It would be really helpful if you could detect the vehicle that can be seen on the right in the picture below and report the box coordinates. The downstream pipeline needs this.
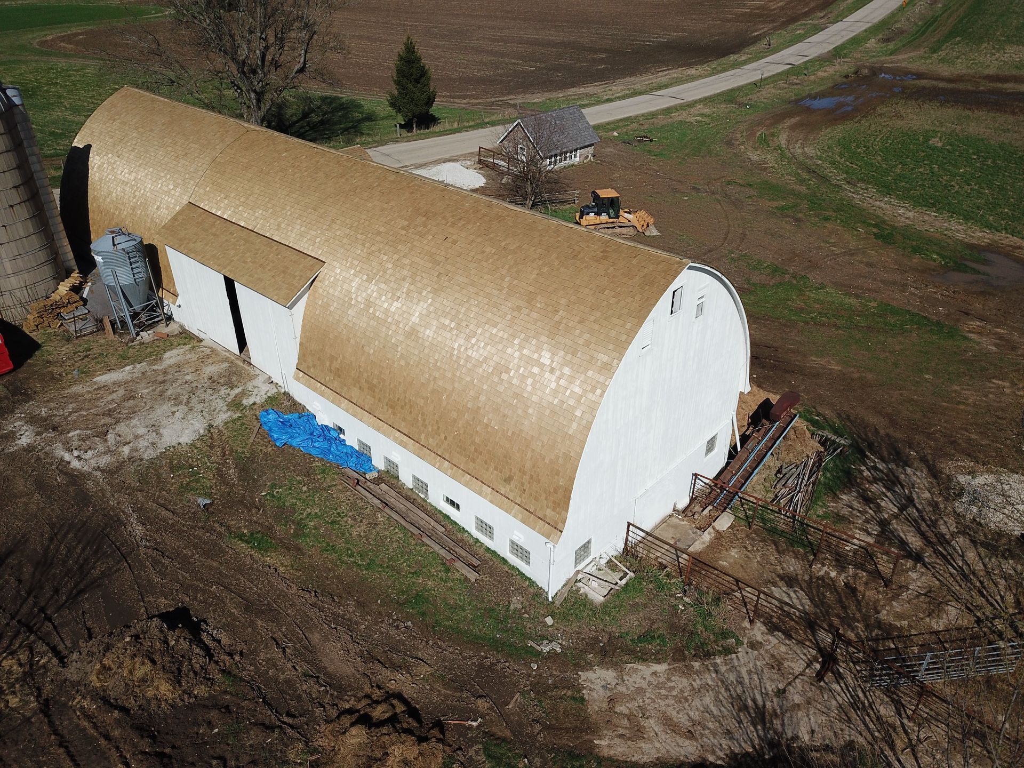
[581,183,663,239]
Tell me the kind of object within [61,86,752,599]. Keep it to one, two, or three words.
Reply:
barn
